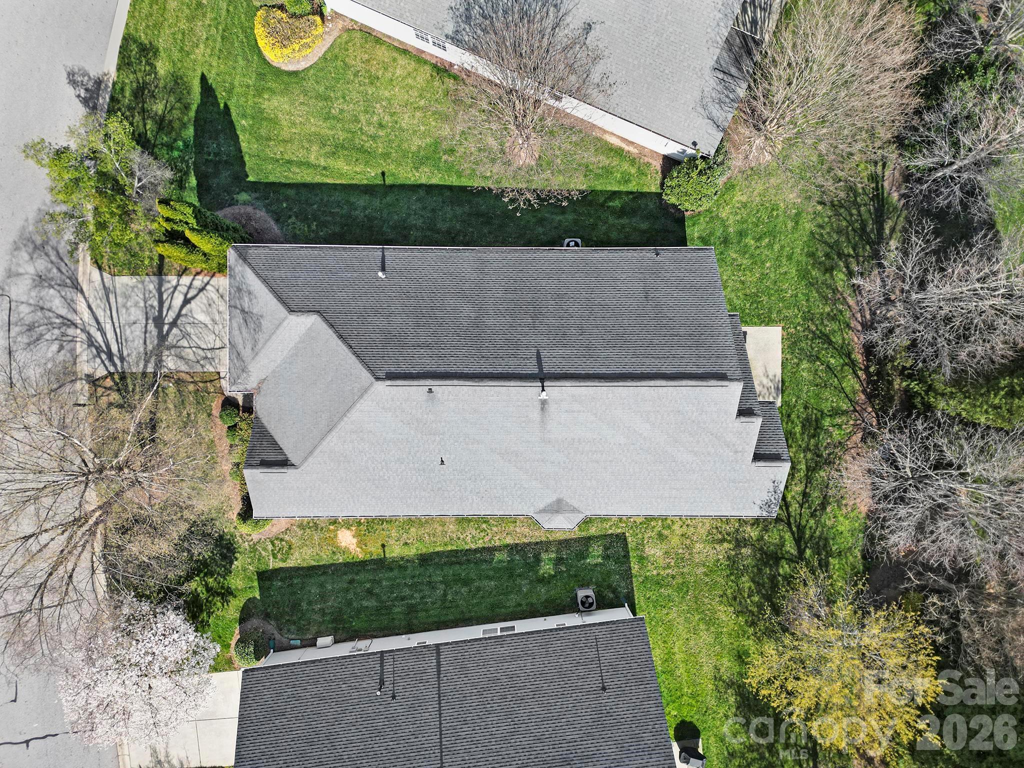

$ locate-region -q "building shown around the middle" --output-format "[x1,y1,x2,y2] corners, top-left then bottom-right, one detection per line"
[224,242,792,532]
